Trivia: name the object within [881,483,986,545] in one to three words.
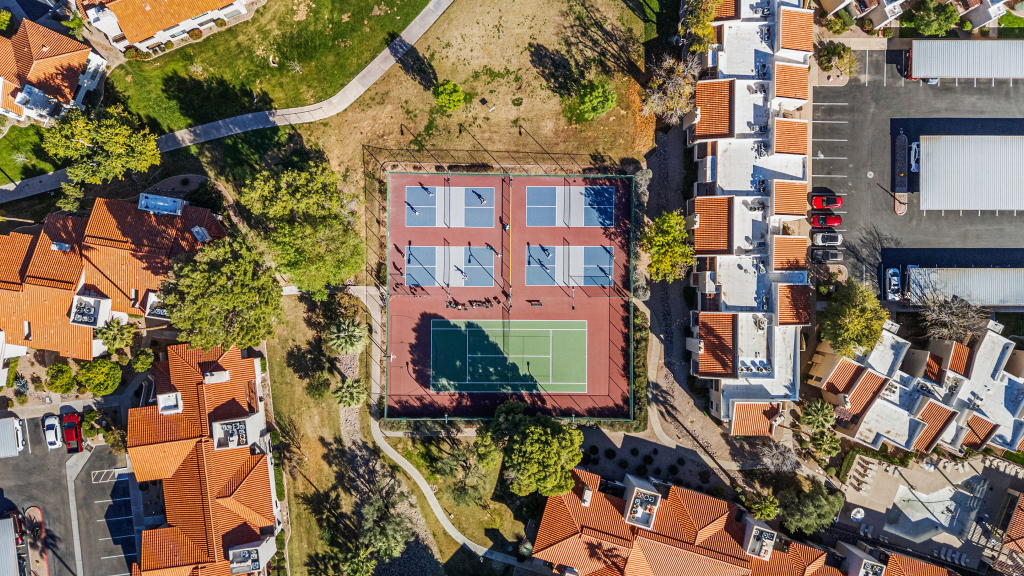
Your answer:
swimming pool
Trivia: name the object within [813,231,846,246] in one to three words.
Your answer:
car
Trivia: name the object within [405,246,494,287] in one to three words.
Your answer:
sports court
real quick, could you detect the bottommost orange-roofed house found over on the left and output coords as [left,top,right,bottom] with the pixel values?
[127,342,288,576]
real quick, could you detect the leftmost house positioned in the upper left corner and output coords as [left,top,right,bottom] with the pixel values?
[0,18,113,126]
